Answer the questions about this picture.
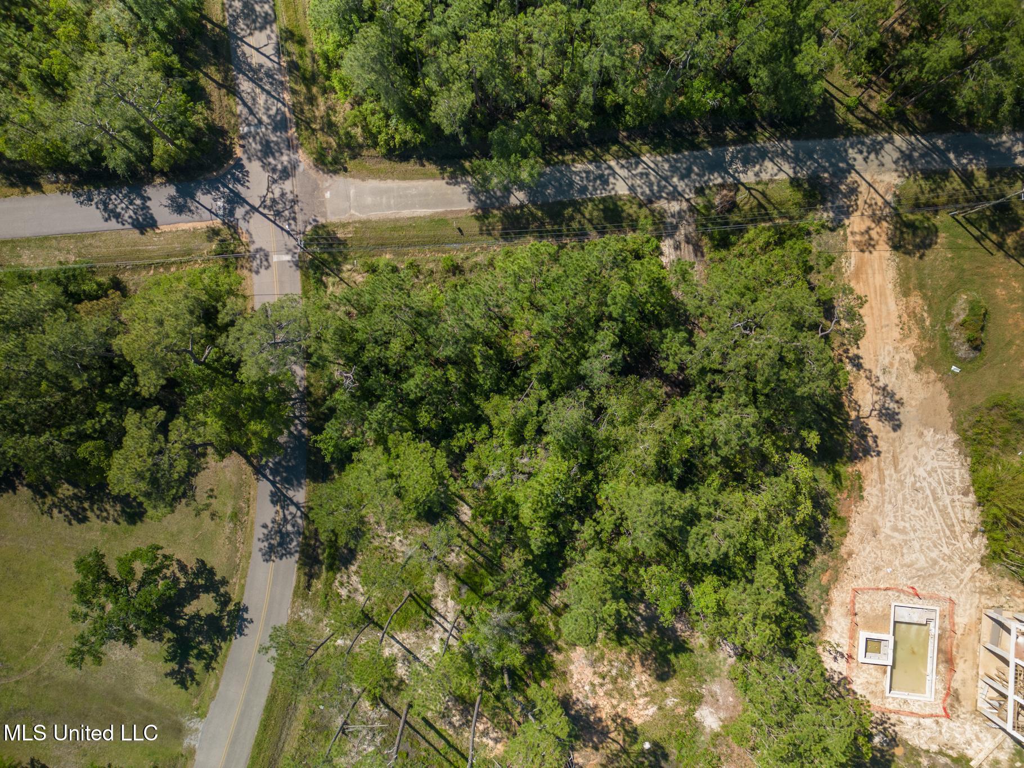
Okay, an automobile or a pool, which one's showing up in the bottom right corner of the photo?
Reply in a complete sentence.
Looking in the bottom right corner of the photo, you will find a pool.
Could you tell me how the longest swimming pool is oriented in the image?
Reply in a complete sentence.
Seen from above, the longest swimming pool lies from top to bottom.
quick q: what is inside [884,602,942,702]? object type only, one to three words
swimming pool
